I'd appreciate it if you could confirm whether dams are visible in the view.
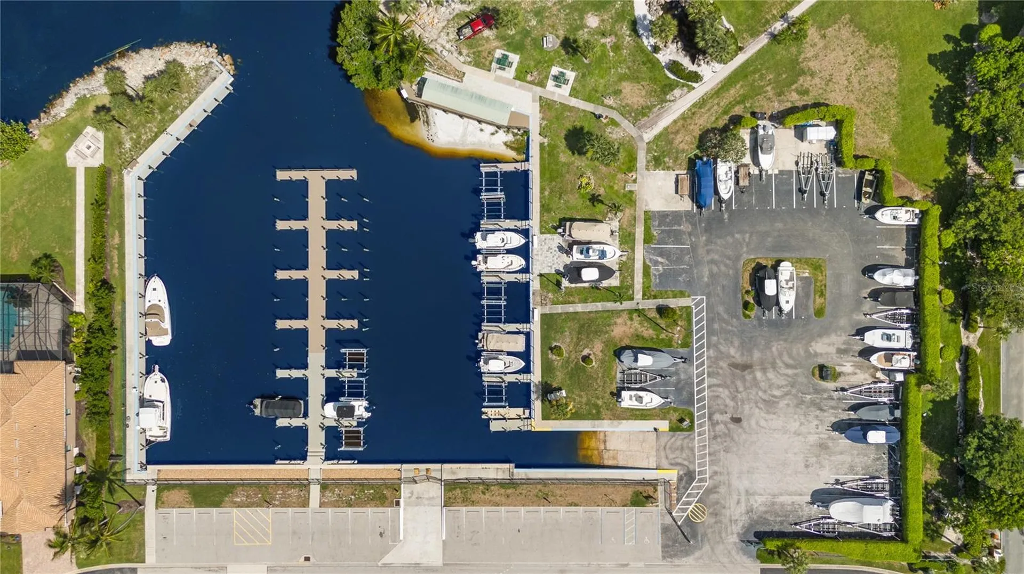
No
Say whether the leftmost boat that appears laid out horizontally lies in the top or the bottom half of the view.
bottom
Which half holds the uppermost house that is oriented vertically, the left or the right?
left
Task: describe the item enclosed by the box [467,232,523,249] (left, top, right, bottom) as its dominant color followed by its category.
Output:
white boat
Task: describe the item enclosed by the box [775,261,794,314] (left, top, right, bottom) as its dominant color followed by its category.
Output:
white boat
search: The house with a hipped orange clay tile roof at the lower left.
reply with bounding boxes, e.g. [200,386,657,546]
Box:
[0,360,74,538]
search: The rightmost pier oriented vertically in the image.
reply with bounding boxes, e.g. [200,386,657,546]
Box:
[273,167,359,464]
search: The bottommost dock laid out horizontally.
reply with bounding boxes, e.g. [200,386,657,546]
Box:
[490,418,530,433]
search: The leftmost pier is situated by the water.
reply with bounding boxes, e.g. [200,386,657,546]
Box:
[125,85,235,472]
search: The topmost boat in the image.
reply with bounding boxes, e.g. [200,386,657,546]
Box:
[755,113,773,170]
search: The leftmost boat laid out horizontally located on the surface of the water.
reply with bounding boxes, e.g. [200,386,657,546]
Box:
[247,395,305,416]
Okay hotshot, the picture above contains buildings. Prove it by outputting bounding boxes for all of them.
[421,78,512,129]
[0,360,74,538]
